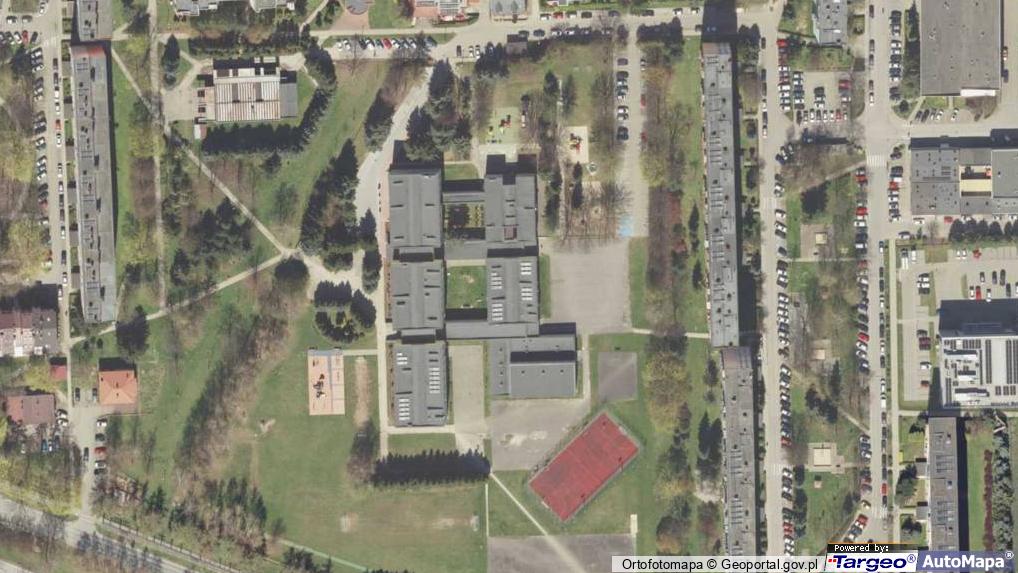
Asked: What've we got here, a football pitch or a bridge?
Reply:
football pitch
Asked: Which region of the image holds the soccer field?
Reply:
bottom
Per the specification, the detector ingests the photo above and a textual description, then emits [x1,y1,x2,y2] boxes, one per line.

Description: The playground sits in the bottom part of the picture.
[308,350,345,415]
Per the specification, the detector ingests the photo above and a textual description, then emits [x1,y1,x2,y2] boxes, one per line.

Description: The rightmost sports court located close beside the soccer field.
[527,410,641,525]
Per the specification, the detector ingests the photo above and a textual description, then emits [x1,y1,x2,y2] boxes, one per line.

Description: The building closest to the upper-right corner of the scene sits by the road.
[921,0,1000,96]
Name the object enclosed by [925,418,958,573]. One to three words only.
building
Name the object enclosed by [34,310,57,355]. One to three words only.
house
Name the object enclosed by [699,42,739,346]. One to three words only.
building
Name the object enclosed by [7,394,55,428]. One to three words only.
house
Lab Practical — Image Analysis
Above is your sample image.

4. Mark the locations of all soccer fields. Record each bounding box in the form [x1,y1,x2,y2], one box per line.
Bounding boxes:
[341,499,481,547]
